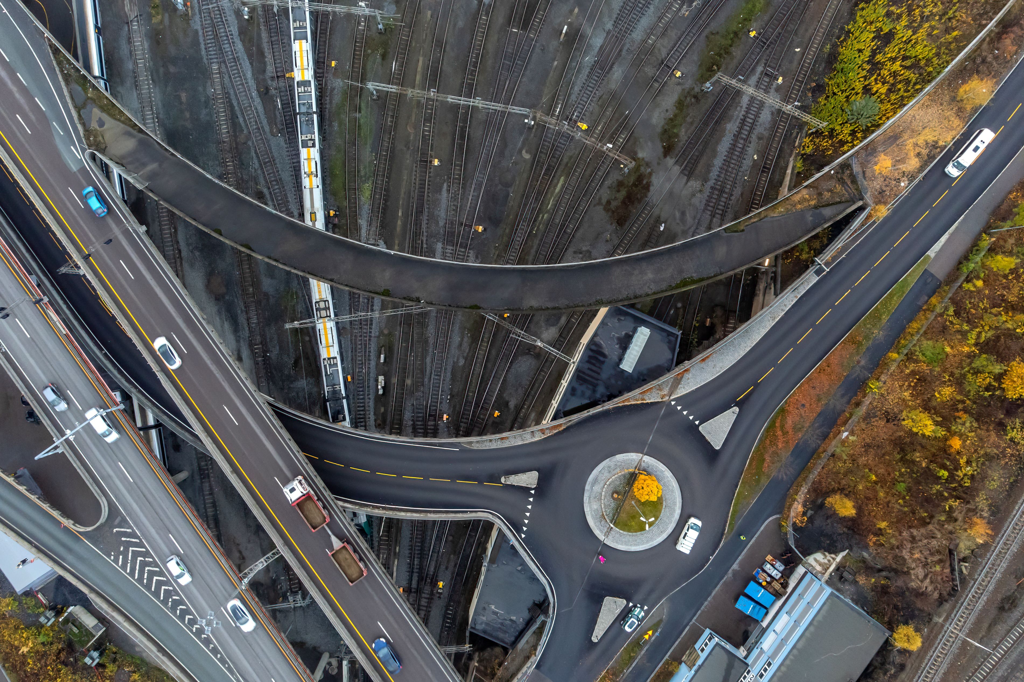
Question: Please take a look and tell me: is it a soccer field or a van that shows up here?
van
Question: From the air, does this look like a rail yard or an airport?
rail yard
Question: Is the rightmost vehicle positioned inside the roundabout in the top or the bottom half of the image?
bottom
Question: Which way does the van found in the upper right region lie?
diagonally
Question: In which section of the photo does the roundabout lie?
bottom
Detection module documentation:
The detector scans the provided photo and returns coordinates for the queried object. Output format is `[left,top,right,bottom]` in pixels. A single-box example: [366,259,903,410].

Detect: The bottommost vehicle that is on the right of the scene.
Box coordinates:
[623,607,645,635]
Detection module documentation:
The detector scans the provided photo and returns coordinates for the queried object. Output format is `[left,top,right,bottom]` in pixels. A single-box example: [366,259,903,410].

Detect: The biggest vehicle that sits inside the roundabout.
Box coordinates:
[677,517,703,555]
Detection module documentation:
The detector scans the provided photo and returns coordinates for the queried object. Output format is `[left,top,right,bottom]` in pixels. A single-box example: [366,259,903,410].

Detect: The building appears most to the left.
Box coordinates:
[0,534,55,597]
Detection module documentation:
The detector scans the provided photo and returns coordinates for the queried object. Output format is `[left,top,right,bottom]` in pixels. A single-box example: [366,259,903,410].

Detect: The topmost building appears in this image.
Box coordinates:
[543,305,682,423]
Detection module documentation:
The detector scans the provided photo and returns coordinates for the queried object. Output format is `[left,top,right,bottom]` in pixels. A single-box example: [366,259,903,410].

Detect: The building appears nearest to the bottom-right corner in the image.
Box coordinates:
[737,572,891,682]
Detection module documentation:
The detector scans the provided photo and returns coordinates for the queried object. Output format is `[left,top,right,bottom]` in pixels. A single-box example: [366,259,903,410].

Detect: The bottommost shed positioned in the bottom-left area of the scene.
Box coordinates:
[59,600,112,649]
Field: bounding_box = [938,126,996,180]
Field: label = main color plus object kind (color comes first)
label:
white van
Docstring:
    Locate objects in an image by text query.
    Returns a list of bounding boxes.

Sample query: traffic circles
[432,388,755,682]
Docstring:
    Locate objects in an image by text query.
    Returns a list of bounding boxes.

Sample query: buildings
[0,534,55,597]
[543,305,682,423]
[59,600,112,649]
[469,527,548,648]
[737,572,891,682]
